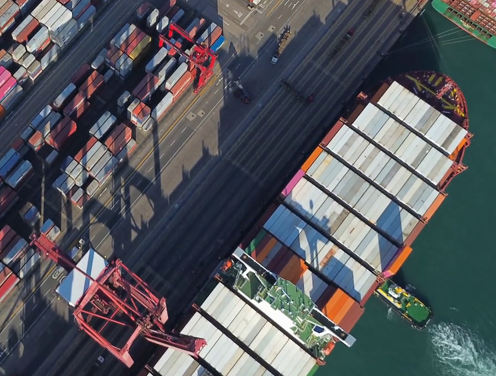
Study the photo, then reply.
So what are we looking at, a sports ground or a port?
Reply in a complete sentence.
This looks like a port.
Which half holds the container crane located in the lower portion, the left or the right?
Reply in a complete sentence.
It is on the left.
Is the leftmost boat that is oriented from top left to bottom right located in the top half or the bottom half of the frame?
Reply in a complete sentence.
Seen from above, the leftmost boat that is oriented from top left to bottom right lies in the bottom half of the view.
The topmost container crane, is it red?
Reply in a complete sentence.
Yes, the topmost container crane is red.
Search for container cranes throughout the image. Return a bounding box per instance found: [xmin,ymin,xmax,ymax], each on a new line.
[22,218,215,376]
[153,21,221,95]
